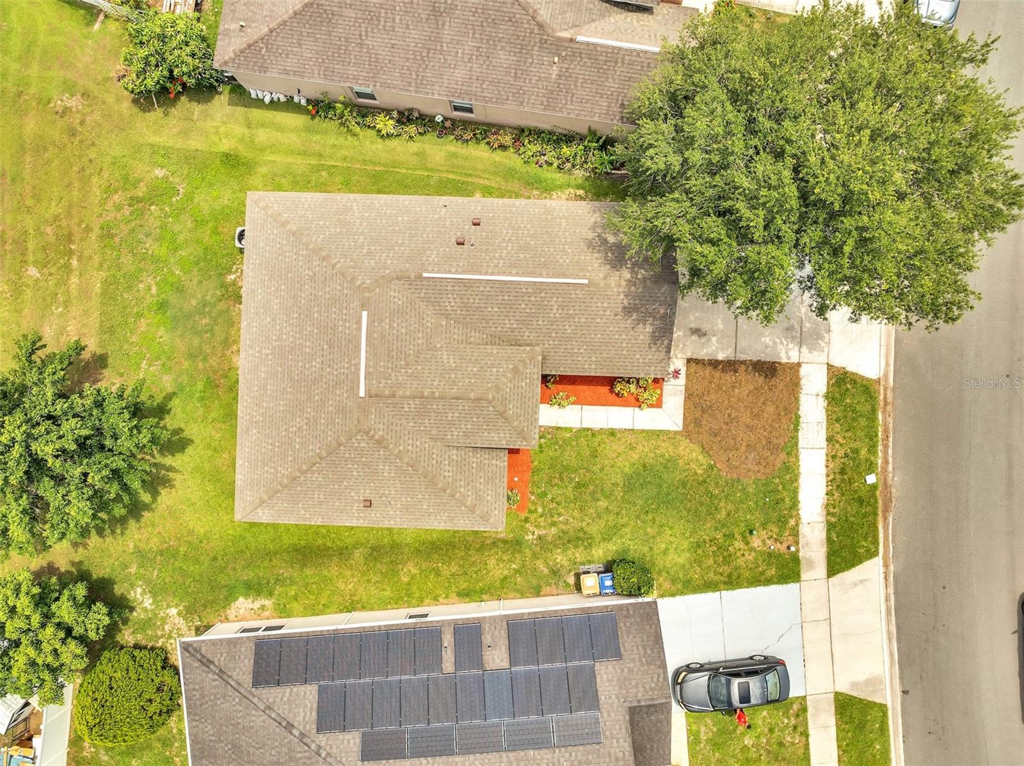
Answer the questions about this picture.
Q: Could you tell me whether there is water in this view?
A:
No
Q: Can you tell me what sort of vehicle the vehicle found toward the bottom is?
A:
automobile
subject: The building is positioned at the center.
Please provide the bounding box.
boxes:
[233,188,680,533]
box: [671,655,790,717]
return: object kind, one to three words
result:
car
